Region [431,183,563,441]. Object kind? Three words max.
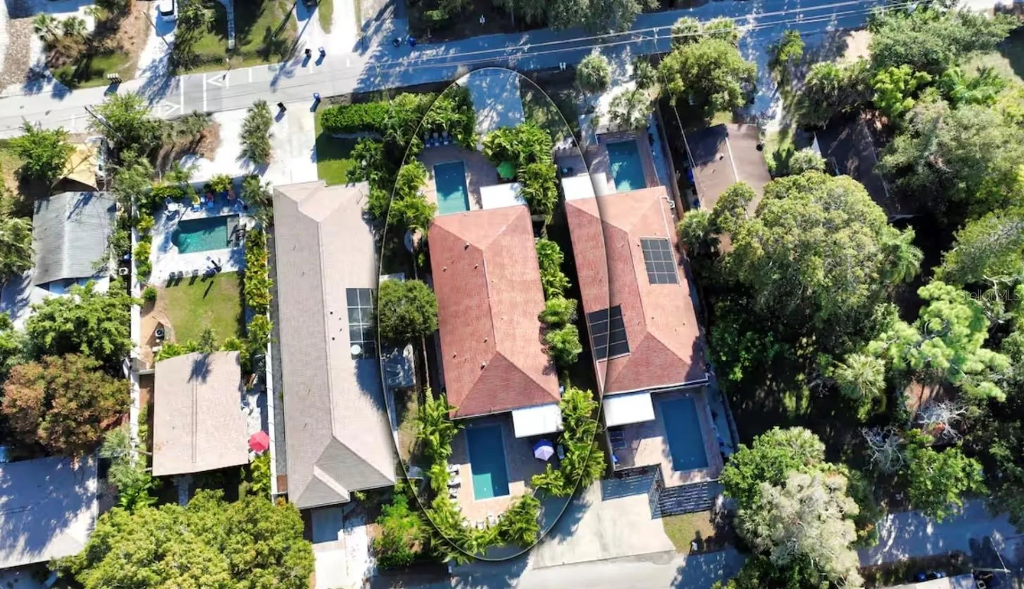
house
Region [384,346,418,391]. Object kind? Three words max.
shed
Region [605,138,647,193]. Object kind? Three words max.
swimming pool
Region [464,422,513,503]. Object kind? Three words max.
swimming pool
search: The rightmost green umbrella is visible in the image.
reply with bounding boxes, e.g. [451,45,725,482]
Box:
[496,161,514,180]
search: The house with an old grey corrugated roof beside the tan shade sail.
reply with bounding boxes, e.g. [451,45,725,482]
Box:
[34,192,124,288]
